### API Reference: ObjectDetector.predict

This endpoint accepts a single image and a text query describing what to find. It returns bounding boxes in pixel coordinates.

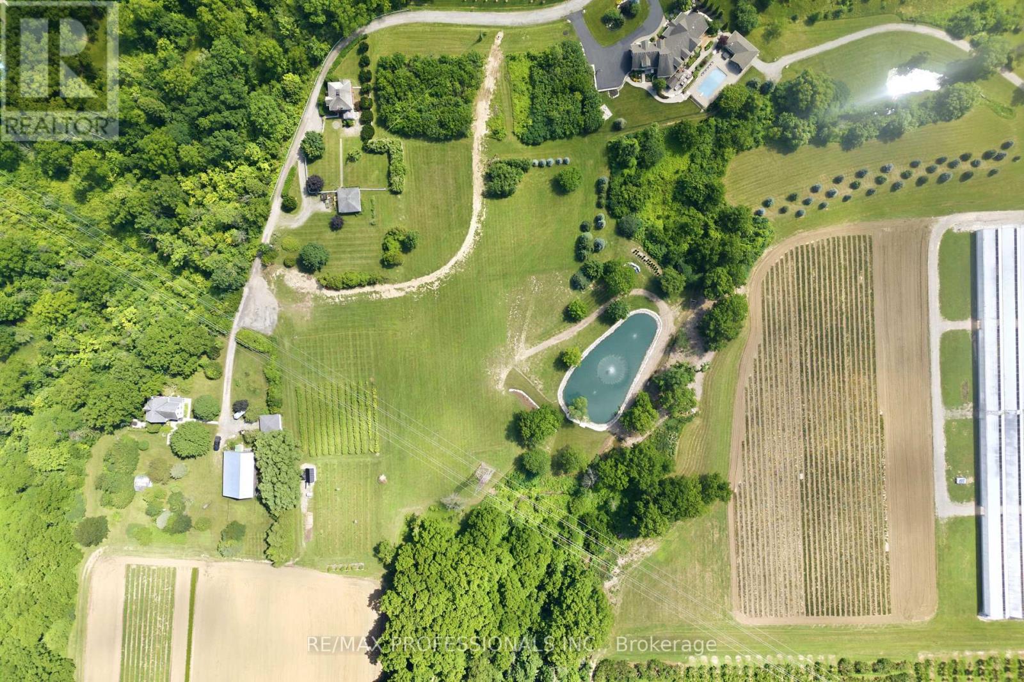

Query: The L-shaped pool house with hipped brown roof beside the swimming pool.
[724,30,760,72]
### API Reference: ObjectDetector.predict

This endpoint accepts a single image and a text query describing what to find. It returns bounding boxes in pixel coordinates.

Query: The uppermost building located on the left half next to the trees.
[325,81,359,120]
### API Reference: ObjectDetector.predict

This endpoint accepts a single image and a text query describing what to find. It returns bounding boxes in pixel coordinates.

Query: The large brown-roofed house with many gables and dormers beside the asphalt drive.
[630,9,709,81]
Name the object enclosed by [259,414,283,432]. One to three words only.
shed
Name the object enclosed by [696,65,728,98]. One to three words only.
swimming pool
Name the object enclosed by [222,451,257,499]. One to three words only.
barn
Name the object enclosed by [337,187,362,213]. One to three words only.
building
